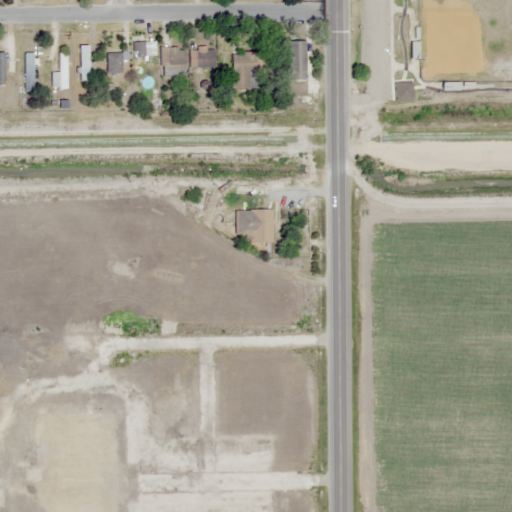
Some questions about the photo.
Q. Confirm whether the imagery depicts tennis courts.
No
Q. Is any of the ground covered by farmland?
Yes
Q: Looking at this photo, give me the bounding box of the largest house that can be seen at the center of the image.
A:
[236,210,274,243]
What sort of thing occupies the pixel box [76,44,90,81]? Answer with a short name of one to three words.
house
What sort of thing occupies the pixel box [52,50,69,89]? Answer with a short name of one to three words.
house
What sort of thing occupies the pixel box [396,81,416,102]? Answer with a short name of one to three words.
building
